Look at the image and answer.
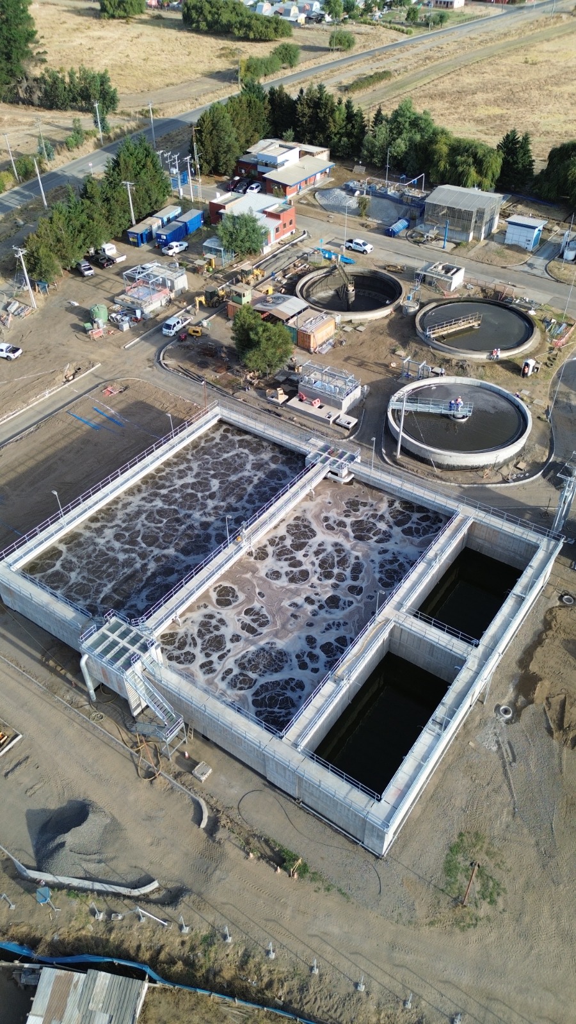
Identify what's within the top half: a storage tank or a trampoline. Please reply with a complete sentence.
The feature located within the top half is a storage tank.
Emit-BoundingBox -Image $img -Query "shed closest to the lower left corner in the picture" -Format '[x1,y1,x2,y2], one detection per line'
[22,968,149,1024]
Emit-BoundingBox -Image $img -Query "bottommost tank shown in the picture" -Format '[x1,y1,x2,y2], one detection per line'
[386,379,531,472]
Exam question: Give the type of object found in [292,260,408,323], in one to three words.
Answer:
storage tank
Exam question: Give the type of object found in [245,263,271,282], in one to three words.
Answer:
work vehicle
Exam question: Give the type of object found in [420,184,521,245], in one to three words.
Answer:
building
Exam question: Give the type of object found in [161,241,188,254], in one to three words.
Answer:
vehicle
